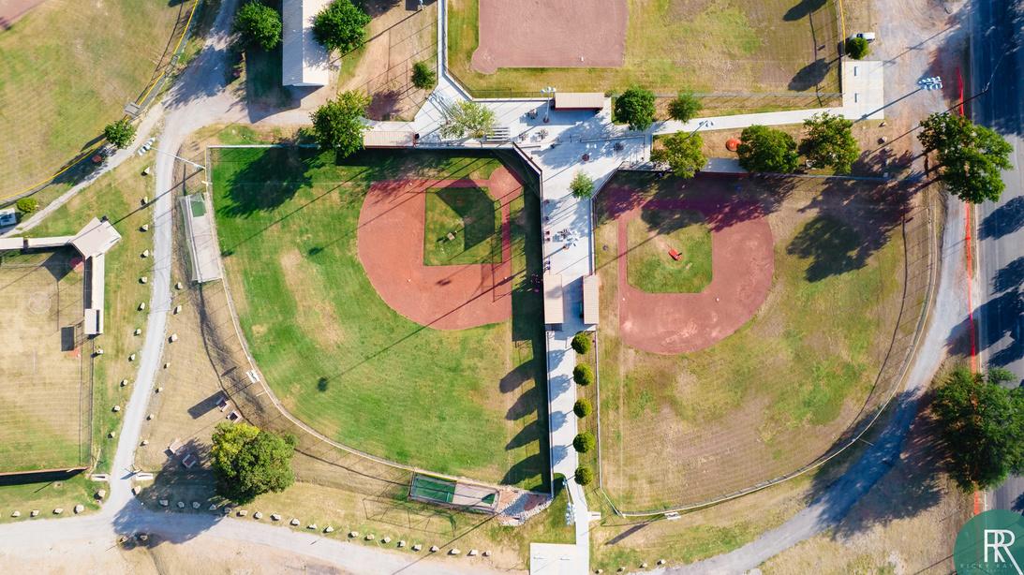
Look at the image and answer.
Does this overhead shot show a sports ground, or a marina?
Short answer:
sports ground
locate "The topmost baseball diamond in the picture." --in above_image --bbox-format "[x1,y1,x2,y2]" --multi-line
[449,0,840,96]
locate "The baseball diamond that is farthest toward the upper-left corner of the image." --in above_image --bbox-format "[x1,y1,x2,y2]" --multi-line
[0,0,203,197]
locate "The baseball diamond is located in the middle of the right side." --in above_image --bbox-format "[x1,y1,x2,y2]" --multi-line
[596,172,926,511]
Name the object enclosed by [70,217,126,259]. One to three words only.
building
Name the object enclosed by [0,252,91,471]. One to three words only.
baseball field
